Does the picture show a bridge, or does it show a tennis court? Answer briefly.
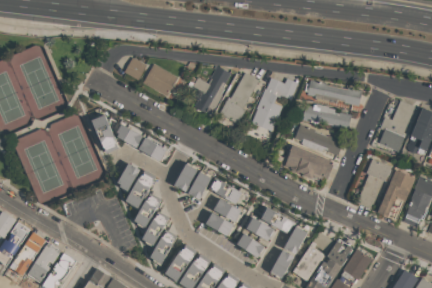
tennis court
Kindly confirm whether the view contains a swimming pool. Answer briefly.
No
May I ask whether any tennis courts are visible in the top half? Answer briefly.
Yes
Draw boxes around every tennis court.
[16,130,69,202]
[0,60,30,130]
[47,114,100,186]
[10,46,63,118]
